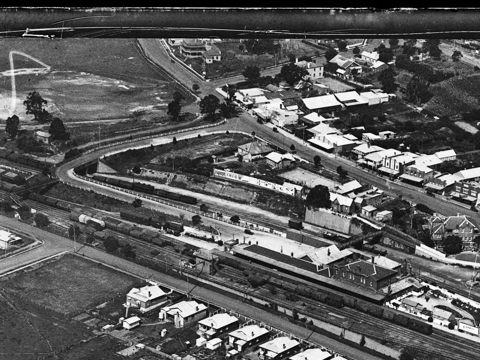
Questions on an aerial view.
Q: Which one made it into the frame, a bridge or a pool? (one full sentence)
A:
It is a bridge that can be seen here.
